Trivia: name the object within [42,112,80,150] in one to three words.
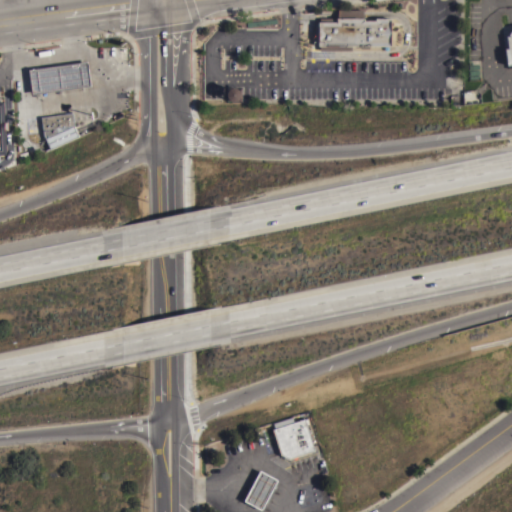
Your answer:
building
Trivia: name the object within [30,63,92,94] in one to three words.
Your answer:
building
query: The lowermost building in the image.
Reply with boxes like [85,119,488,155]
[274,413,316,461]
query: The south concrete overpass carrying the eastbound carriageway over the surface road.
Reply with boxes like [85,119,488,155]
[104,306,238,368]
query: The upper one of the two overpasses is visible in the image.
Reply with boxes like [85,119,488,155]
[102,202,237,266]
